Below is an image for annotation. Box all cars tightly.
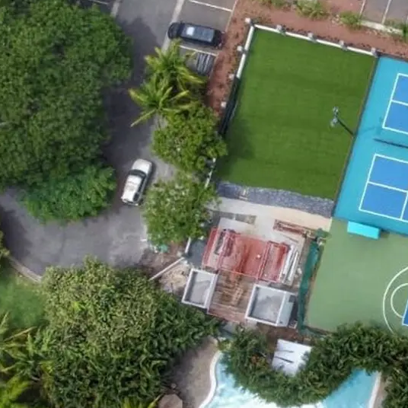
[173,24,219,48]
[121,160,153,205]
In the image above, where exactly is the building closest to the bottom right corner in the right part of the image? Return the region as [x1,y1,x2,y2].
[272,341,315,376]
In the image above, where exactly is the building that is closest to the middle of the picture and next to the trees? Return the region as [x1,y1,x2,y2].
[183,219,300,330]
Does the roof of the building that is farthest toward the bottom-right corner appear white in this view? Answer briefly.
Yes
